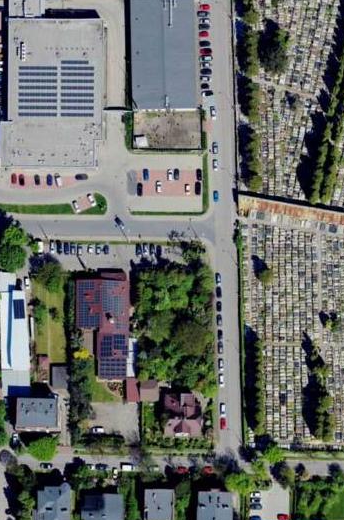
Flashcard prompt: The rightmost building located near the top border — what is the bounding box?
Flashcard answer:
[130,0,199,114]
